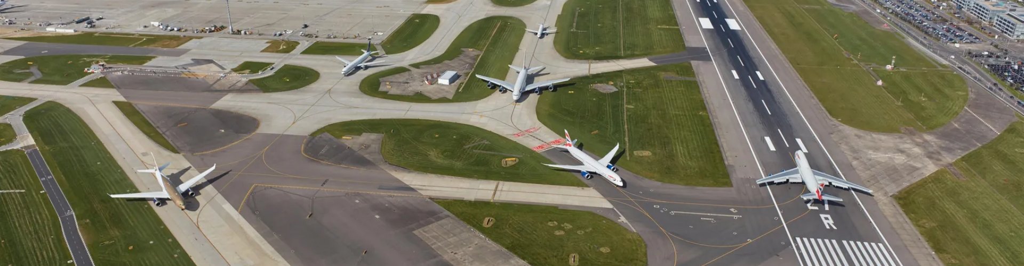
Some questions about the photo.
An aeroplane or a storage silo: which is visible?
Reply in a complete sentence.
The image shows an aeroplane.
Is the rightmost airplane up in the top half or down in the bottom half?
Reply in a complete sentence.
The rightmost airplane is in the bottom half of the image.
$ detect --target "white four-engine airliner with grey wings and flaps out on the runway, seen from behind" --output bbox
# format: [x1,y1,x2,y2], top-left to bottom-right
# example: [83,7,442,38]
[758,150,874,202]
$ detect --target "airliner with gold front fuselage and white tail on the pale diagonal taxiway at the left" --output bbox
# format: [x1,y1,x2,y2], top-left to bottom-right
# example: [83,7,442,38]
[107,152,215,210]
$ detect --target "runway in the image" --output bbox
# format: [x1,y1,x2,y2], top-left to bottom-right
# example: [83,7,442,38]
[687,0,904,266]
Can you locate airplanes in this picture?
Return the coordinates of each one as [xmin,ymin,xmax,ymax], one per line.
[336,40,384,75]
[107,152,215,210]
[542,129,623,186]
[476,49,570,102]
[758,150,874,202]
[525,21,556,37]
